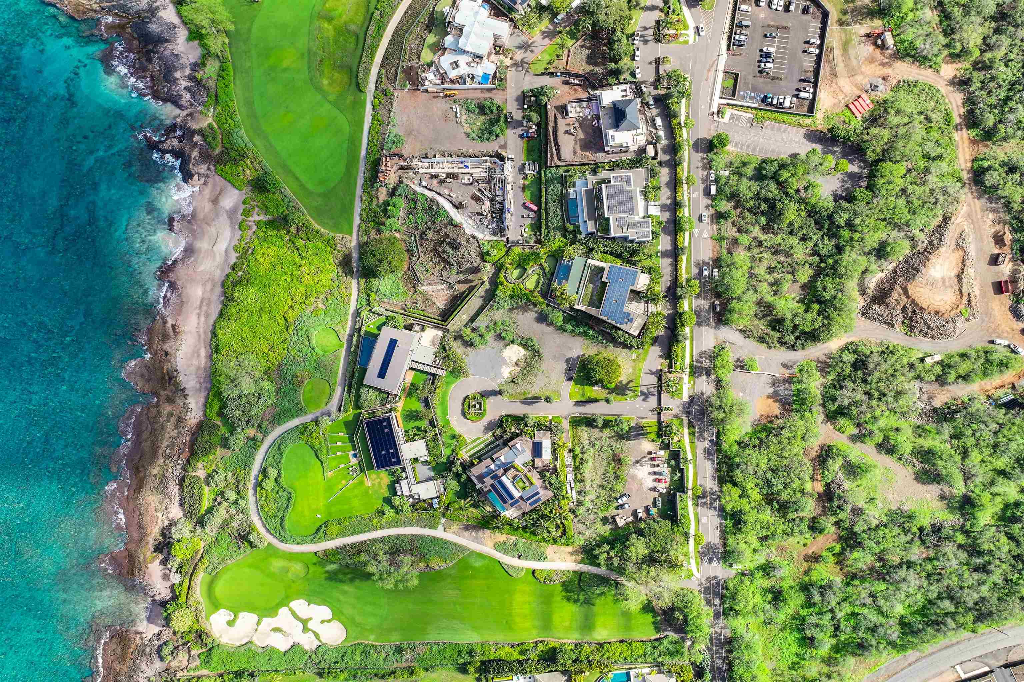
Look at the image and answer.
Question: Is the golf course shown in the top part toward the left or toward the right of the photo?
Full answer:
The golf course shown in the top part is on the left side of the image.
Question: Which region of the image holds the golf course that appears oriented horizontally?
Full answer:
You can find the golf course that appears oriented horizontally in the bottom area of the picture.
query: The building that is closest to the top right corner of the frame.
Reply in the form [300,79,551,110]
[598,83,647,152]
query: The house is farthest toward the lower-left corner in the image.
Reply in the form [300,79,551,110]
[363,413,446,500]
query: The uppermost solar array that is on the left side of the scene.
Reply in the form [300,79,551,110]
[377,339,397,379]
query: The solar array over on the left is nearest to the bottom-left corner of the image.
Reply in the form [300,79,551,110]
[365,417,402,470]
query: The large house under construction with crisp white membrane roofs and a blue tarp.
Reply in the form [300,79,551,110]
[433,0,509,85]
